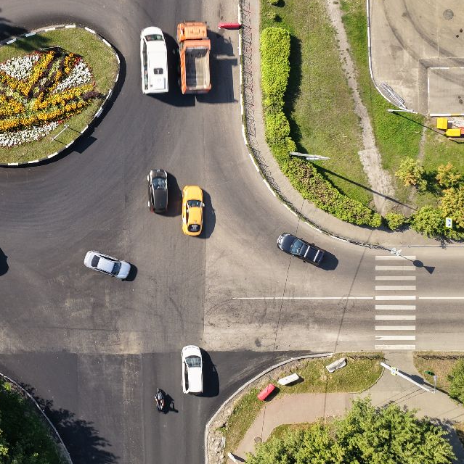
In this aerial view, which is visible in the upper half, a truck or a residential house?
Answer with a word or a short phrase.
truck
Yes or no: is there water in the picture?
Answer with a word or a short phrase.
No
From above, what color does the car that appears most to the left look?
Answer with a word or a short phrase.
white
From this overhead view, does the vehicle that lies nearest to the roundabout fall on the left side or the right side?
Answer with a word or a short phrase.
left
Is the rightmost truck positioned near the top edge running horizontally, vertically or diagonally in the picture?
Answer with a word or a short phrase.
vertically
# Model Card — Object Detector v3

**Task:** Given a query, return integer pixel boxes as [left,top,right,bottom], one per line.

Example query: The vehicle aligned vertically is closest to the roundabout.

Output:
[138,29,169,93]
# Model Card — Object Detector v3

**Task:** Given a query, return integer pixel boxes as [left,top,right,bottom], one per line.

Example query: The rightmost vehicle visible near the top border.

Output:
[176,20,212,95]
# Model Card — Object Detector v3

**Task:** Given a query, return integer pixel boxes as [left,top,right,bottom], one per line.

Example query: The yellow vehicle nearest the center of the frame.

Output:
[179,185,206,235]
